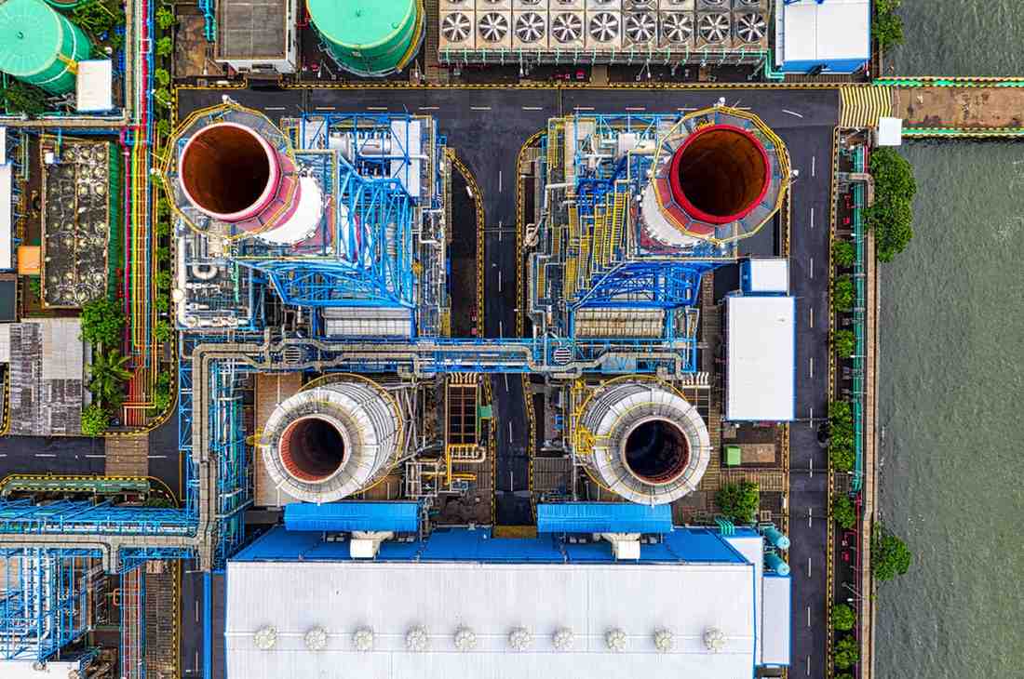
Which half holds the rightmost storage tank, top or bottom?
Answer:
top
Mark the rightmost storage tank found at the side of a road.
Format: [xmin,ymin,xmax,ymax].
[304,0,432,81]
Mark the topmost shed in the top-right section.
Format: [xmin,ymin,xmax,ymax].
[766,0,869,83]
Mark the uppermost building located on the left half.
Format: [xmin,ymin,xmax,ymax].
[214,0,297,77]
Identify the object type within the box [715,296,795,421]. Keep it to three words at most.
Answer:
shed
